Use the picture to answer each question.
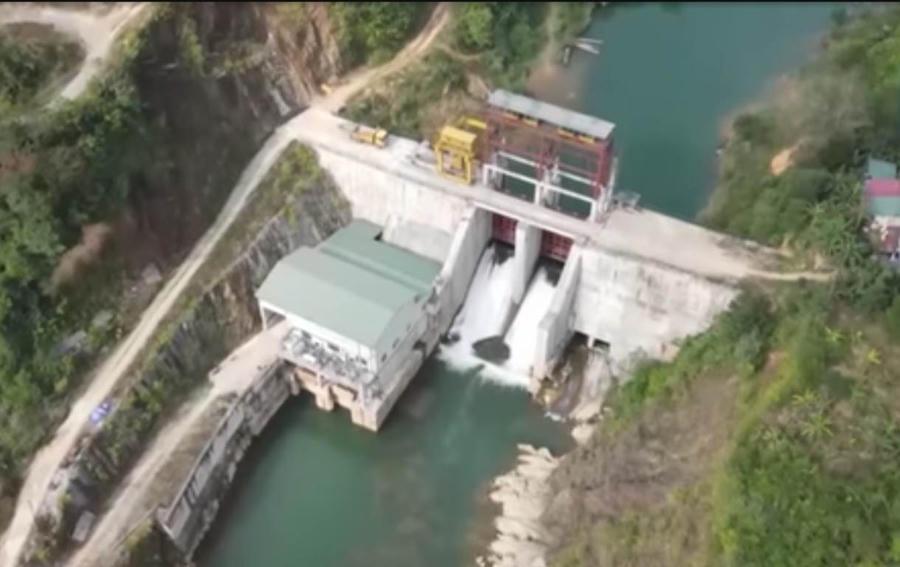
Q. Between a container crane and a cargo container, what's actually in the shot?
container crane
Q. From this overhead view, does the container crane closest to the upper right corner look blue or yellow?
yellow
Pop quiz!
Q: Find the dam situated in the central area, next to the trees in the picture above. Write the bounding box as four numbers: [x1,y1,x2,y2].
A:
[315,115,771,428]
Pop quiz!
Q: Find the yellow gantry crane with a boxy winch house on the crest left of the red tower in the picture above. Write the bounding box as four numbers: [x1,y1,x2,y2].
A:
[433,123,490,190]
